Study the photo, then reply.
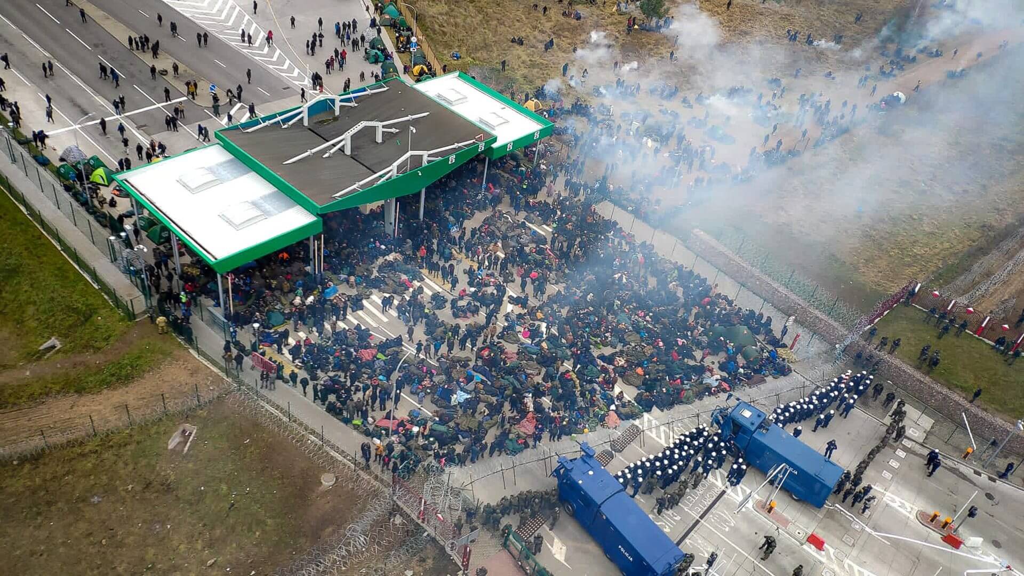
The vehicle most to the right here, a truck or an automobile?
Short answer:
truck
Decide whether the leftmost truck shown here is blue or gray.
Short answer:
blue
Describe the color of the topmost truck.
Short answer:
blue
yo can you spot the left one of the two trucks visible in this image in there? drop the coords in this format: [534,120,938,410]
[549,447,685,576]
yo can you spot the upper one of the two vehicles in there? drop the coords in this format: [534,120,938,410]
[714,397,845,510]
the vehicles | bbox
[714,397,845,510]
[549,447,685,576]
